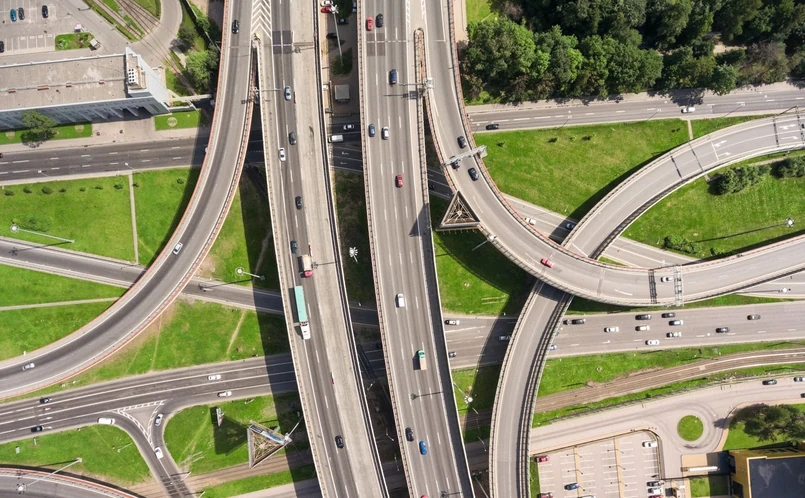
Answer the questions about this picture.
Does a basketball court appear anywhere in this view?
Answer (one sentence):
No, I find no basketball court anywhere in the image.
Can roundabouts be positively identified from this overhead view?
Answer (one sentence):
Yes, the picture does show a roundabout.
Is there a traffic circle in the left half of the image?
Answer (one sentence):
No, in the left half of the image there is no traffic circle.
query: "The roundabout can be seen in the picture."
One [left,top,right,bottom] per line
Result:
[660,396,721,461]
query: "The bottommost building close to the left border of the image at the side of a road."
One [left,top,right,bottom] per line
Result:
[0,47,170,130]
